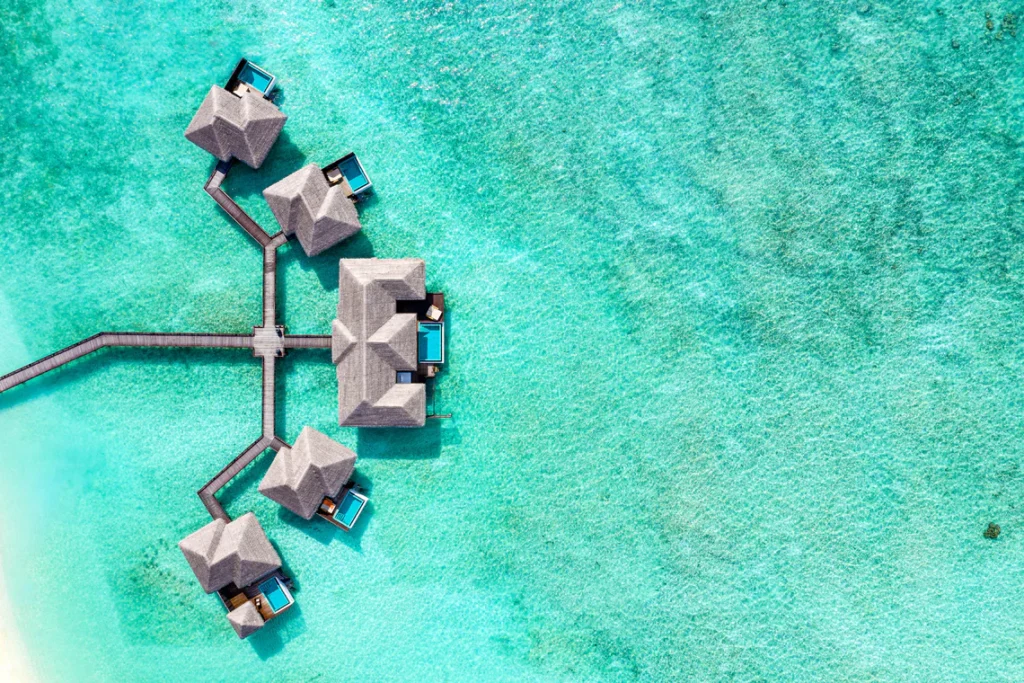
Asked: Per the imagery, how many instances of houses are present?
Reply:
five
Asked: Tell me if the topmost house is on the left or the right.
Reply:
left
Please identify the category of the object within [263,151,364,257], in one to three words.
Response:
house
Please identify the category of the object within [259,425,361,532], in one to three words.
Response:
house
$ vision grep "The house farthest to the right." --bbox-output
[332,258,454,427]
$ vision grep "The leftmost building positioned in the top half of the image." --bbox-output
[185,57,288,169]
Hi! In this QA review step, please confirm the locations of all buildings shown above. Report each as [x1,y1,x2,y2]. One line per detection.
[332,258,454,427]
[259,425,361,532]
[185,57,288,169]
[178,512,291,618]
[263,151,364,257]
